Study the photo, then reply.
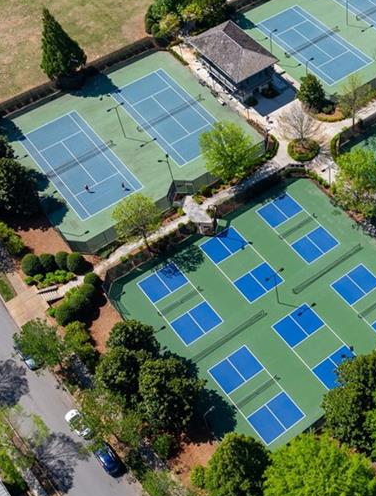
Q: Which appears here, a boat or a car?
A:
car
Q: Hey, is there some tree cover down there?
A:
Yes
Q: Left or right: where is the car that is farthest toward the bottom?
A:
left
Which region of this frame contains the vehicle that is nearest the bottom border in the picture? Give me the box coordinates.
[91,440,124,477]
